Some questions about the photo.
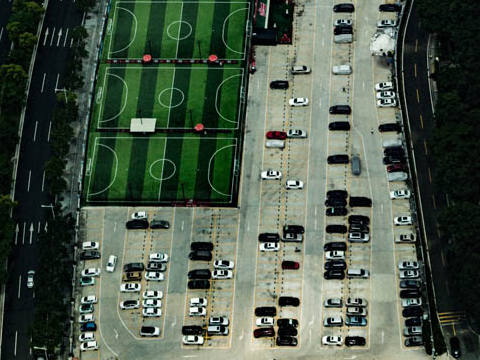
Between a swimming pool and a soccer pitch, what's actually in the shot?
soccer pitch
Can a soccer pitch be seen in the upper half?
Yes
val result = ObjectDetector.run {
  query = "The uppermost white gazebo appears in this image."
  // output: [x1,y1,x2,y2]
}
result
[130,118,156,138]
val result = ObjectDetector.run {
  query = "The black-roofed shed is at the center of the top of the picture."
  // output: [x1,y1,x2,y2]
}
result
[251,27,272,44]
